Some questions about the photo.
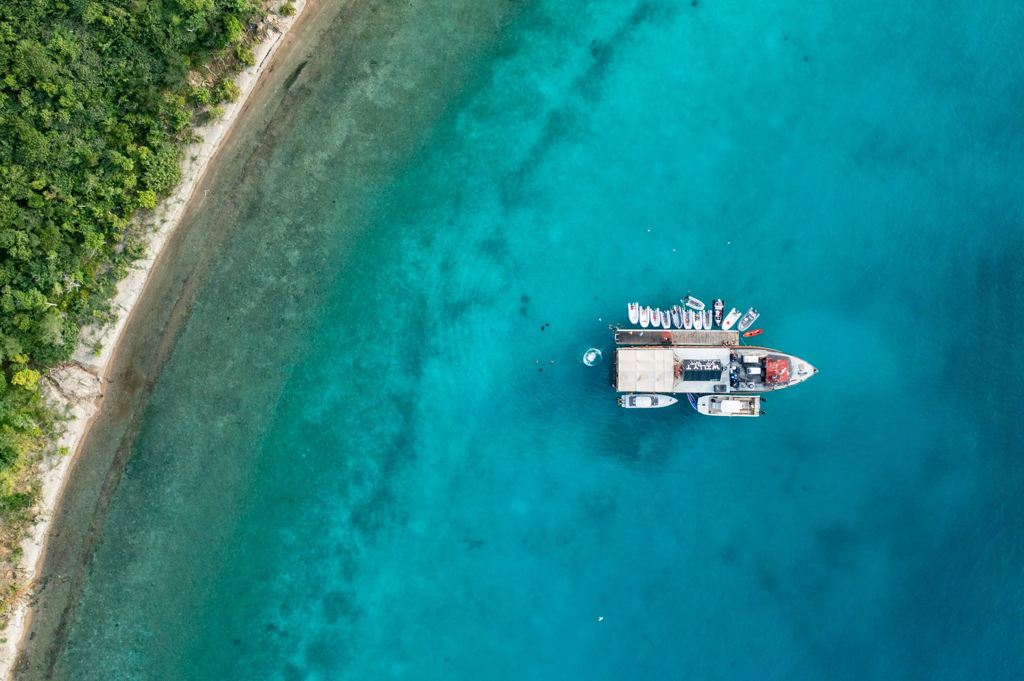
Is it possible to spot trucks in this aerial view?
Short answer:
No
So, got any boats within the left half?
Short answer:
No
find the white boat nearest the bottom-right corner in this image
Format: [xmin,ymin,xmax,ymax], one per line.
[697,395,767,418]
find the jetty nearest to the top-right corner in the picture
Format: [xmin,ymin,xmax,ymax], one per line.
[672,330,739,345]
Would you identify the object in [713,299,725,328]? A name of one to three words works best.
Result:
boat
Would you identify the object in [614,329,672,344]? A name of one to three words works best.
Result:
pier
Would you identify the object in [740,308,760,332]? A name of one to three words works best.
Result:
boat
